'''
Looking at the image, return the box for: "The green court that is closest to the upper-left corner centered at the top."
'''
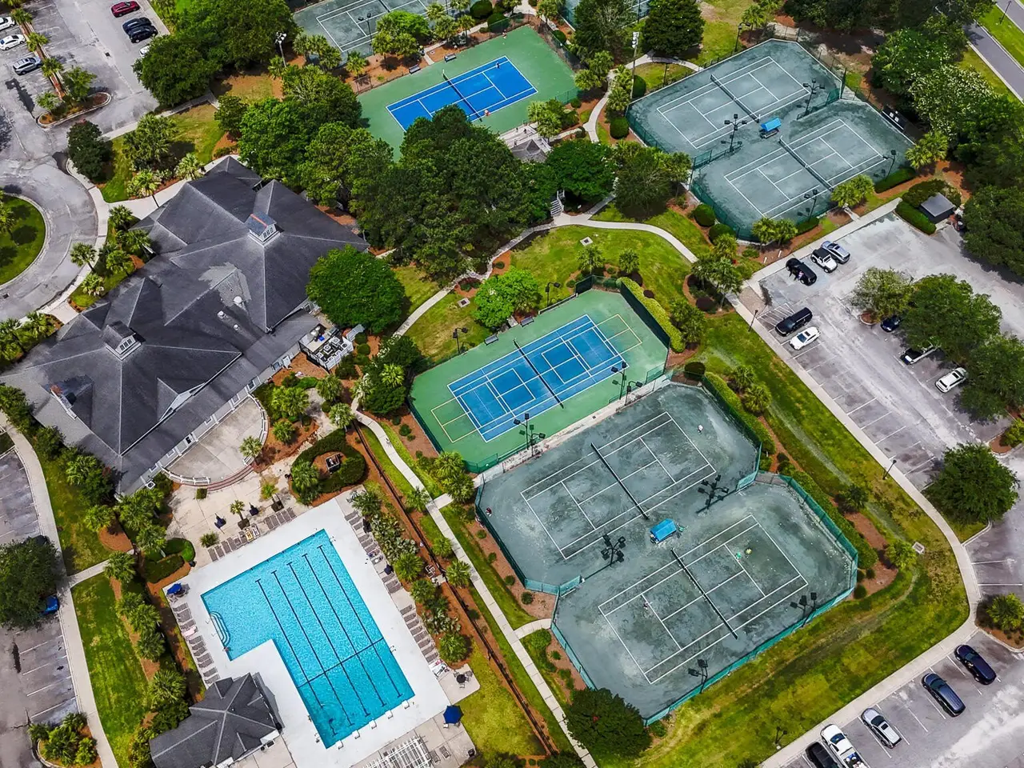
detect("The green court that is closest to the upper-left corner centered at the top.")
[357,24,586,167]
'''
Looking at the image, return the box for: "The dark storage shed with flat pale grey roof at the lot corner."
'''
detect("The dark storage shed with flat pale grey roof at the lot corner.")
[920,192,955,222]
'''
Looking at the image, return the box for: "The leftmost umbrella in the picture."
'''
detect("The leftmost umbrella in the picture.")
[168,584,184,598]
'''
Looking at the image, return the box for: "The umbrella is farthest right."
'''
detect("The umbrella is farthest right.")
[443,705,462,725]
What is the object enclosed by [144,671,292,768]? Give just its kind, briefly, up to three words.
building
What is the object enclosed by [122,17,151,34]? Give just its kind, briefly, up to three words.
car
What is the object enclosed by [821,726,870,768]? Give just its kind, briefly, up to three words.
truck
